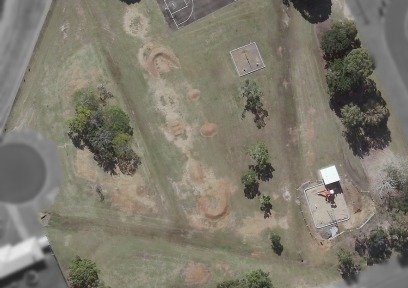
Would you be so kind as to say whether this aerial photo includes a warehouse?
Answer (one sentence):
No, the photo shows no warehouse.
